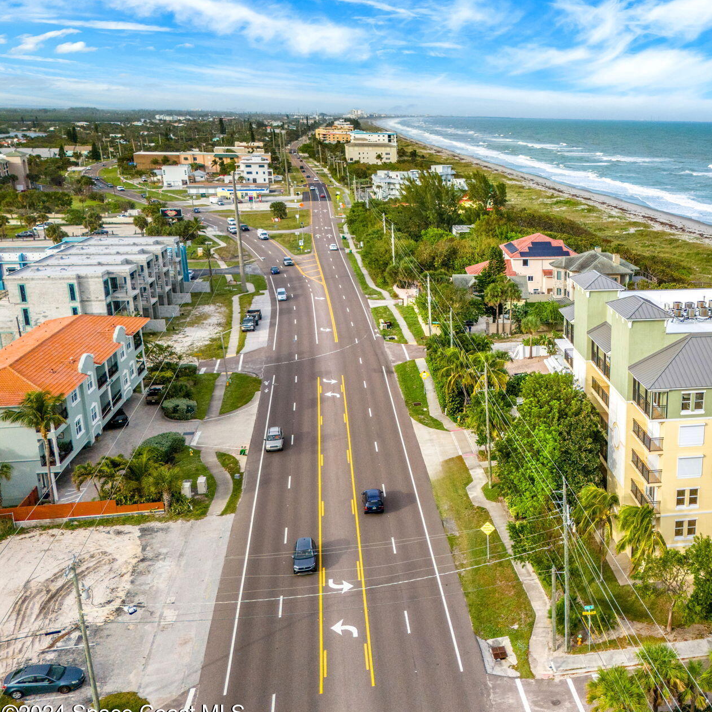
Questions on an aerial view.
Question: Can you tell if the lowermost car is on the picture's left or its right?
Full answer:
You can find the lowermost car on the left side of the picture.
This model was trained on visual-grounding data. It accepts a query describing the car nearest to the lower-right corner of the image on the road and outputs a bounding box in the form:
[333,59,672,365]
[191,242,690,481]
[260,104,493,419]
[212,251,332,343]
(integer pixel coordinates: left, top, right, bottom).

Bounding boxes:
[361,485,384,509]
